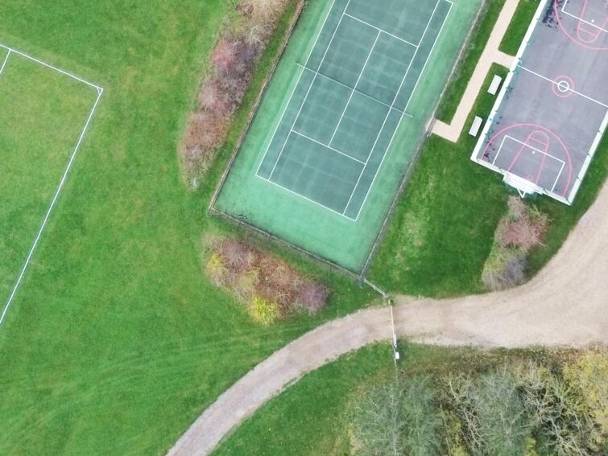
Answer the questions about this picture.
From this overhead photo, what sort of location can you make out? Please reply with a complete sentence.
It's a sports ground.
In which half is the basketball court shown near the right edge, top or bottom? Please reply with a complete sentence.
You can find the basketball court shown near the right edge in the top half.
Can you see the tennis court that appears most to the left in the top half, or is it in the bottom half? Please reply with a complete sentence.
It is in the top half that the tennis court that appears most to the left appears.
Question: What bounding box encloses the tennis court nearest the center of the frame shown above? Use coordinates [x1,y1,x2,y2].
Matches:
[214,0,483,271]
